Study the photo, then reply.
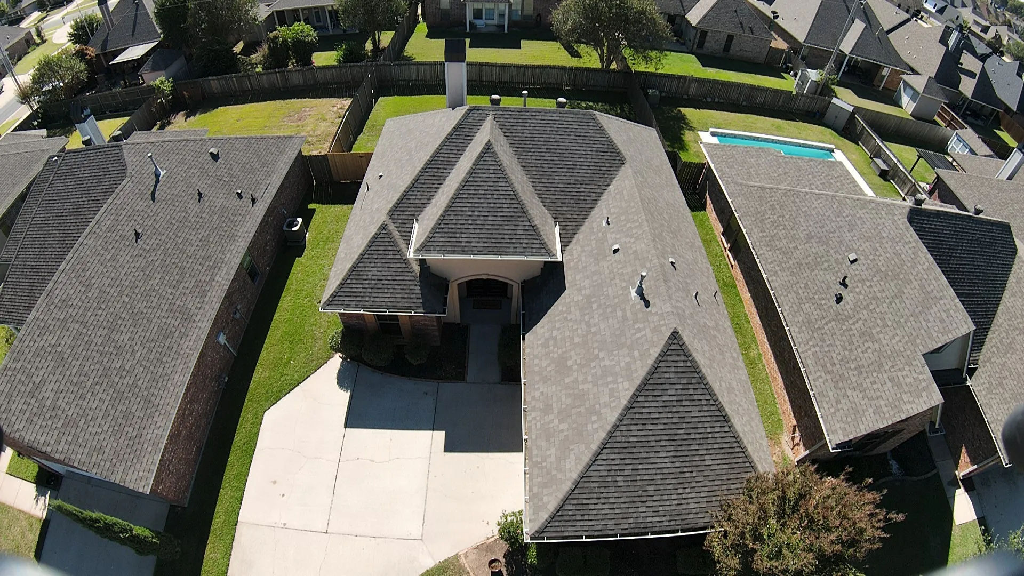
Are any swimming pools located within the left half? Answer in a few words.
No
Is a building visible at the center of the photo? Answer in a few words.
Yes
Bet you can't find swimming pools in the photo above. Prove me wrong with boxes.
[687,126,881,199]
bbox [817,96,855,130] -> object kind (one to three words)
shed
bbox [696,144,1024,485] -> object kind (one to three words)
house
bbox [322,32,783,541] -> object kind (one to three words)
house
